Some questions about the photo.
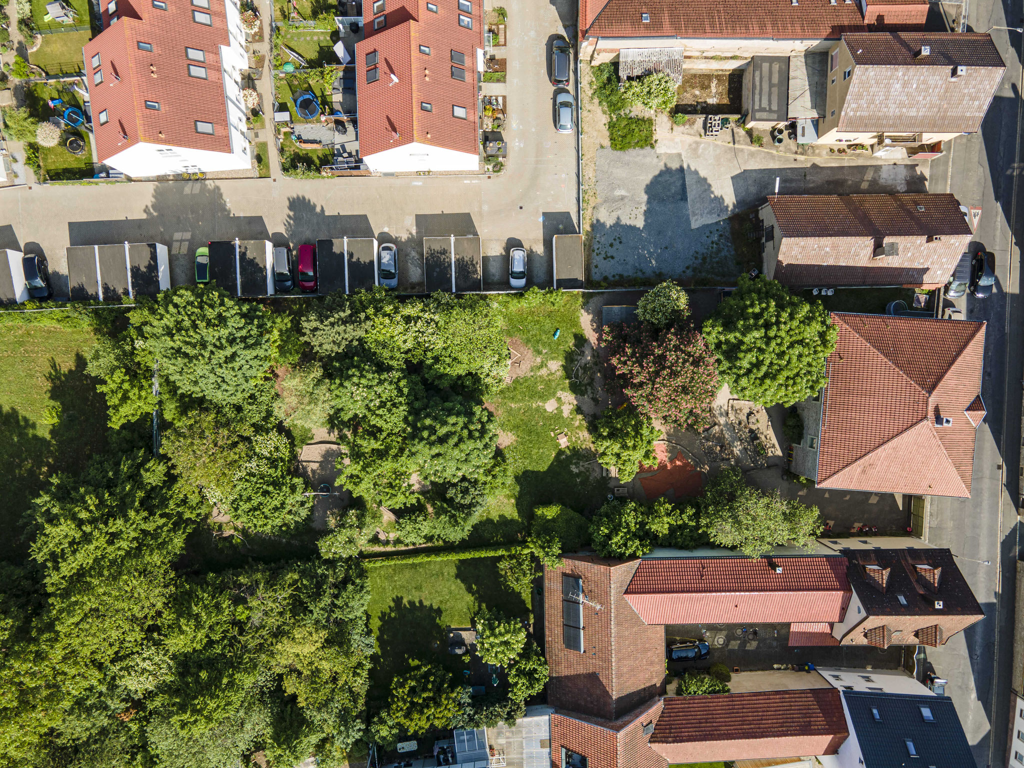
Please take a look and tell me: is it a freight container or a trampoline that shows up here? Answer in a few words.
trampoline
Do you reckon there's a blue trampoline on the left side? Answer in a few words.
Yes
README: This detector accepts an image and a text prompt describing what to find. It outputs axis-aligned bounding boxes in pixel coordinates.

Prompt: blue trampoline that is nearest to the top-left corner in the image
[54,101,85,128]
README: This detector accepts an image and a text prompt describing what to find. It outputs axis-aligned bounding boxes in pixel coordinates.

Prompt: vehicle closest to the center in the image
[507,246,529,289]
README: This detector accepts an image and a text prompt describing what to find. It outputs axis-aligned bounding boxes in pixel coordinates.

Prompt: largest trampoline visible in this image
[287,84,319,118]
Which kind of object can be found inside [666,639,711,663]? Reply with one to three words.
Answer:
car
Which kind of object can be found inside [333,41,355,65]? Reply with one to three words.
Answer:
umbrella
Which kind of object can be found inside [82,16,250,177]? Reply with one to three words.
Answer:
house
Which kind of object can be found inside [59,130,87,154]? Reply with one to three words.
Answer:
trampoline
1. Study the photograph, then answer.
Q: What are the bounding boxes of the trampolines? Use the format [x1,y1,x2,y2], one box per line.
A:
[59,130,87,154]
[287,84,319,118]
[54,101,85,128]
